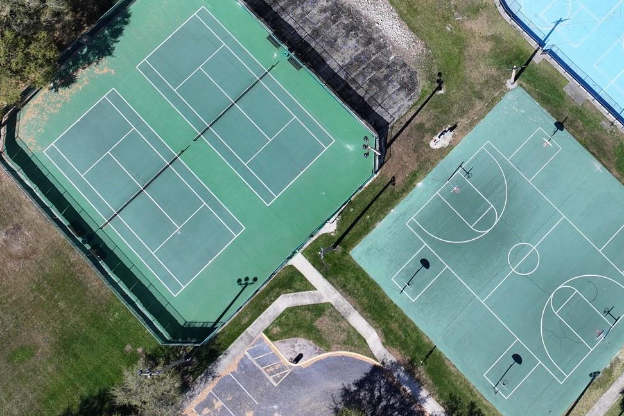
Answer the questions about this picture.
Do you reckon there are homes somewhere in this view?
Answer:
No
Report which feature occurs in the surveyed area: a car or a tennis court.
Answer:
tennis court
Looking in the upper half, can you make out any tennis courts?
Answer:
Yes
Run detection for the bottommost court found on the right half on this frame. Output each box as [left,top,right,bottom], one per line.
[349,86,624,416]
